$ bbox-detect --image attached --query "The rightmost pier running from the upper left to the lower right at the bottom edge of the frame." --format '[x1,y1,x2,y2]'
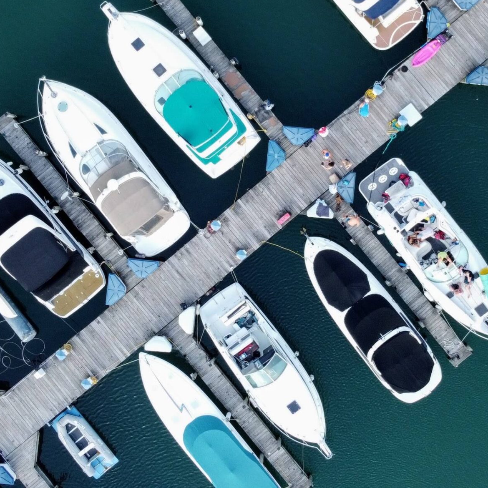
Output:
[162,317,320,488]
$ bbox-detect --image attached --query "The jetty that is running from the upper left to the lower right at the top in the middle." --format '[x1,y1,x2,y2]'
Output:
[153,0,300,161]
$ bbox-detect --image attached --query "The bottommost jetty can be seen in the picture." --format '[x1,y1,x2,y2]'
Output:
[6,431,56,488]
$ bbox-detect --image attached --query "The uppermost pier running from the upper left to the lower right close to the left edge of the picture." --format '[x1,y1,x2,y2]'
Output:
[0,113,143,291]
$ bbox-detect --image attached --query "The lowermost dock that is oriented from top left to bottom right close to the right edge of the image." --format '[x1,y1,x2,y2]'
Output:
[319,192,472,368]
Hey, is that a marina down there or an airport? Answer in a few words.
marina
